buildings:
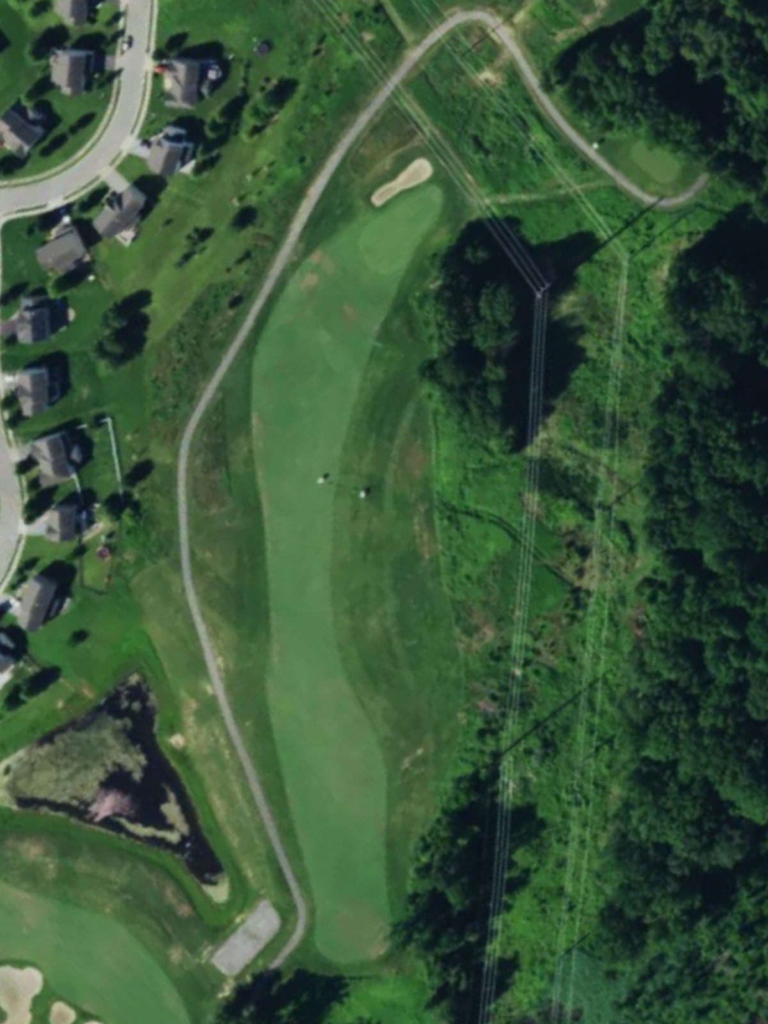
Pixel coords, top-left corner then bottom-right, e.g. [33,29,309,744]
[27,433,78,486]
[35,218,92,278]
[145,123,191,178]
[50,49,92,94]
[14,369,59,418]
[47,0,90,26]
[160,59,211,108]
[12,576,64,632]
[43,504,86,543]
[90,177,151,244]
[18,295,52,346]
[0,105,41,158]
[0,637,20,678]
